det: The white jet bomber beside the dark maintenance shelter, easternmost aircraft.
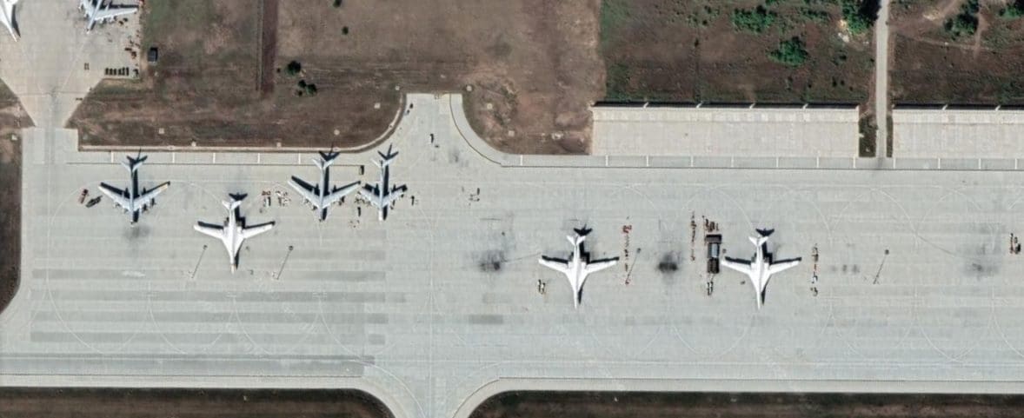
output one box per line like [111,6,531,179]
[720,233,798,308]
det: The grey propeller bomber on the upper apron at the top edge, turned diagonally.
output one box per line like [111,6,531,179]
[78,0,135,33]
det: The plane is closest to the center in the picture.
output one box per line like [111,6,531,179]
[537,232,615,307]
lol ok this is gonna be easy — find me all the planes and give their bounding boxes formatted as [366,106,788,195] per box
[98,158,166,225]
[78,0,135,33]
[0,0,19,42]
[288,154,357,224]
[537,232,615,307]
[195,197,271,272]
[361,153,401,220]
[720,233,798,308]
